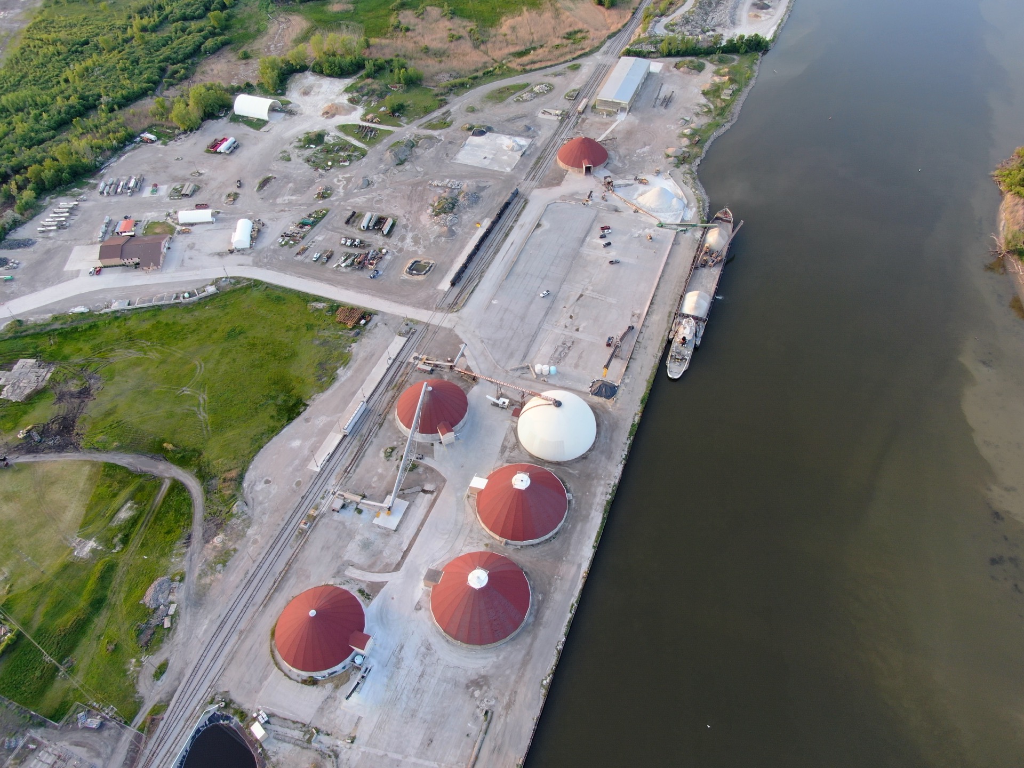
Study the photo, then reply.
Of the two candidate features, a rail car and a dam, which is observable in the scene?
rail car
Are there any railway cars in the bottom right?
No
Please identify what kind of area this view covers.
port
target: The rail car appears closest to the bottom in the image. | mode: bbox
[340,395,367,432]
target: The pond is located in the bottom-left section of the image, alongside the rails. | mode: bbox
[173,702,268,768]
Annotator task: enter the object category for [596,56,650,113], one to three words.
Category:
building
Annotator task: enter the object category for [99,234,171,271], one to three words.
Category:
building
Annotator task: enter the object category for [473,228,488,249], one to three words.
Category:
rail car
